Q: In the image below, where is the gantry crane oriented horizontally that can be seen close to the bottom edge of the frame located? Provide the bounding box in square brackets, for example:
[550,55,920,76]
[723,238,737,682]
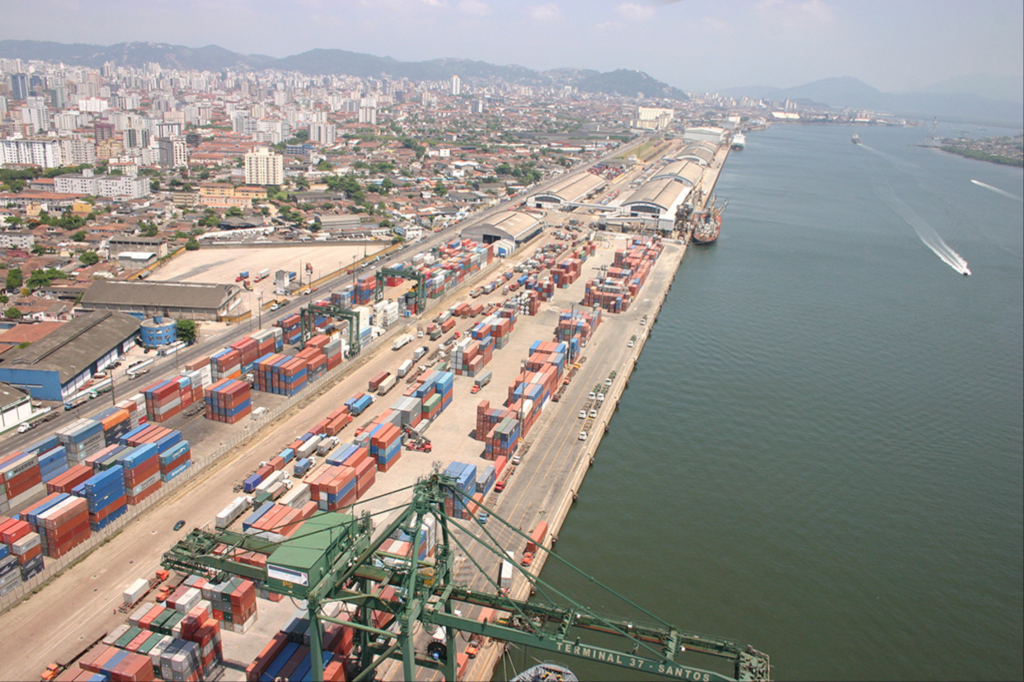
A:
[147,462,770,682]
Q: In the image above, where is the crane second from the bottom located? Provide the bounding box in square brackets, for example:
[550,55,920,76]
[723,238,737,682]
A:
[296,301,364,356]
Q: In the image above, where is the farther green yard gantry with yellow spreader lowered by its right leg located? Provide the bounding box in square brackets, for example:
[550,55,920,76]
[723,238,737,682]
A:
[368,264,430,311]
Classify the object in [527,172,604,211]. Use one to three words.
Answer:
building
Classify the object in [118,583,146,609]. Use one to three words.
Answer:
shipping container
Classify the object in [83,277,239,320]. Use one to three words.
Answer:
building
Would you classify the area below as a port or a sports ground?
port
